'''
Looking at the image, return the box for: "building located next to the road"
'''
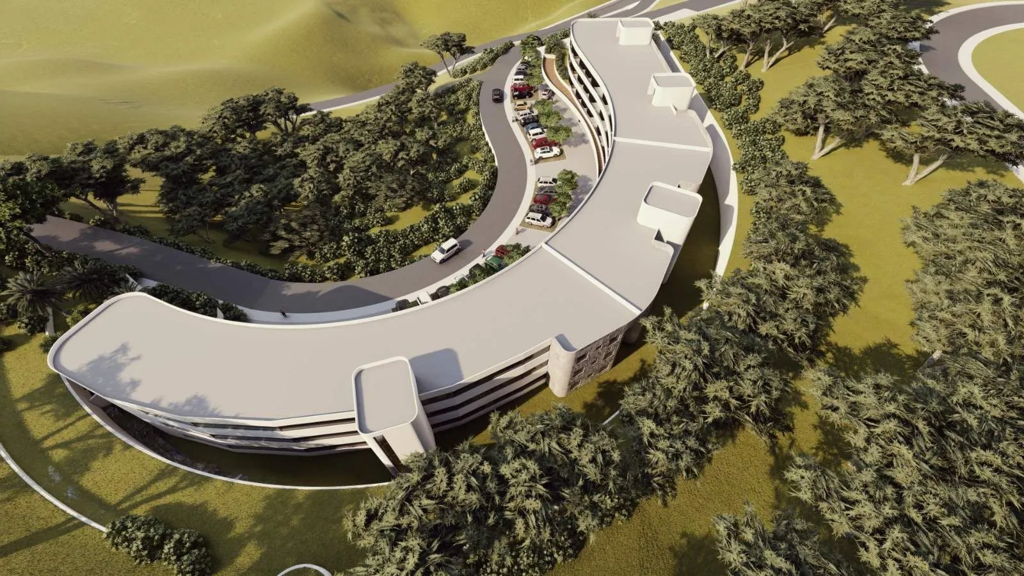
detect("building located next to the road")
[48,17,713,479]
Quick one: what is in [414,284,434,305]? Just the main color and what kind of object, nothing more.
white car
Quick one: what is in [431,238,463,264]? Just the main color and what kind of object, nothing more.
white car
